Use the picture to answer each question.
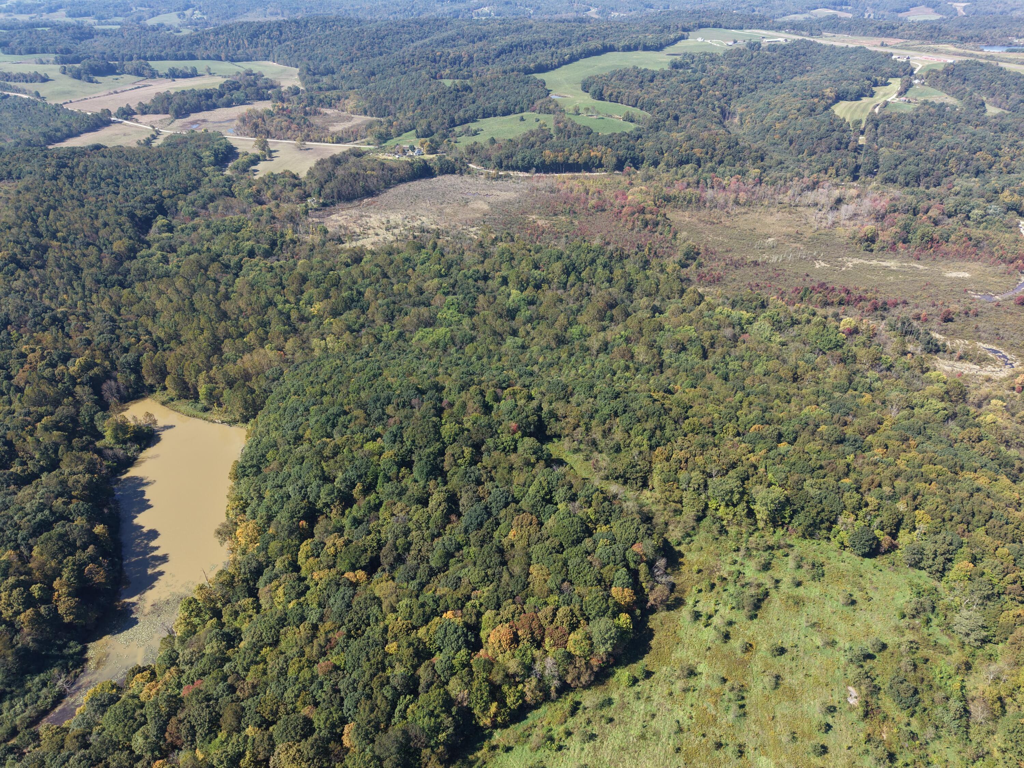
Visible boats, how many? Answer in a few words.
zero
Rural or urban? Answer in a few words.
rural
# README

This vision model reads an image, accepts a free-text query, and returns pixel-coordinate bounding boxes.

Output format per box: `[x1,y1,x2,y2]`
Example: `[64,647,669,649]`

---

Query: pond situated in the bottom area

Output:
[0,399,246,768]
